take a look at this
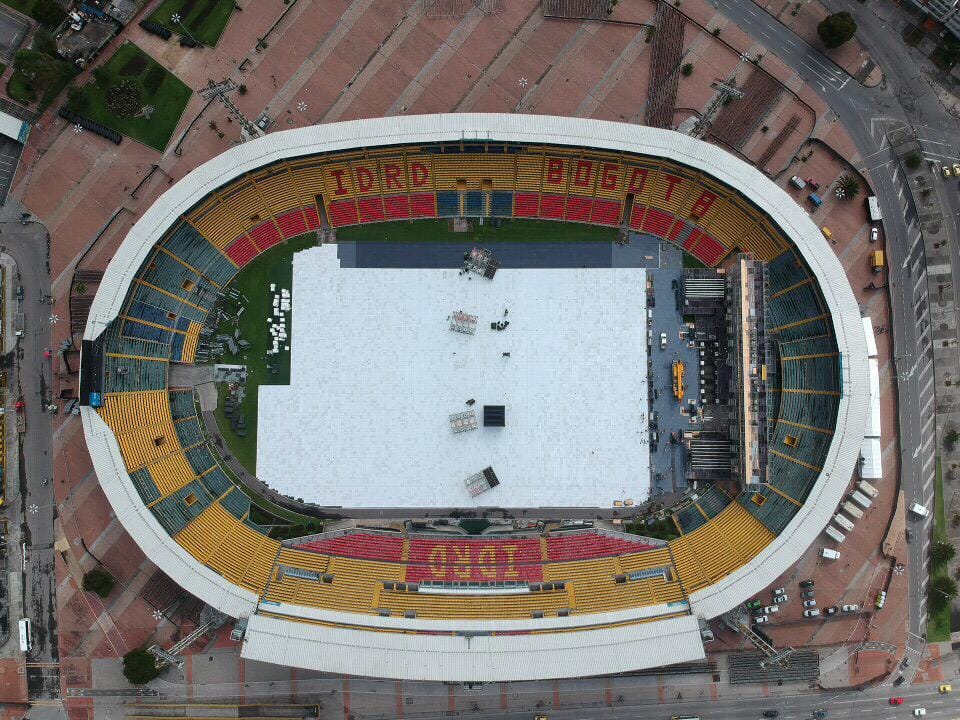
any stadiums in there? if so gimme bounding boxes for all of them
[79,112,871,682]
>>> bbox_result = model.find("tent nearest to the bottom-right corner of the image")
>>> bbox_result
[855,437,883,478]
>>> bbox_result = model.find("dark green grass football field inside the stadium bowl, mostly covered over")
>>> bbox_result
[190,218,712,543]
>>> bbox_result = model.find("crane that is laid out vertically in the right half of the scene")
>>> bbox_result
[668,362,688,408]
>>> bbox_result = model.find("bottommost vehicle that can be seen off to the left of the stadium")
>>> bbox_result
[13,619,29,655]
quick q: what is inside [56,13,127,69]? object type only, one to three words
house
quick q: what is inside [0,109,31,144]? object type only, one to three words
building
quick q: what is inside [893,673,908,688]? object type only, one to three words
car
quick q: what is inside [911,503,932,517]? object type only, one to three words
vehicle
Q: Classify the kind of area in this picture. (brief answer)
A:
sports ground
